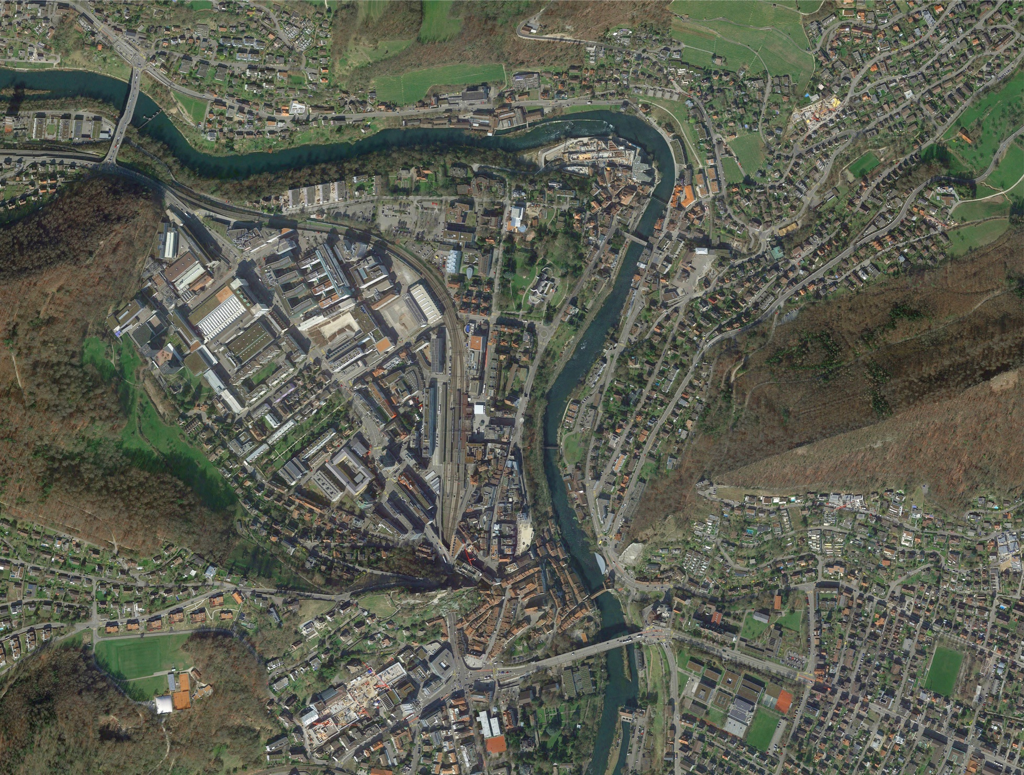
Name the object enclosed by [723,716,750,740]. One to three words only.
building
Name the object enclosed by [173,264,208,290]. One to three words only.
building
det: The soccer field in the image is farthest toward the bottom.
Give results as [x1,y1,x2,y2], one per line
[747,708,779,751]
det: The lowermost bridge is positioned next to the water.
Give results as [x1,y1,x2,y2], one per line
[520,629,648,672]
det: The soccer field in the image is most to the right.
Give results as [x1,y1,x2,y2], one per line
[925,647,964,696]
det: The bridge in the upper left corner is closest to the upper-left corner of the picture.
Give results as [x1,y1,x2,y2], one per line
[107,66,140,163]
